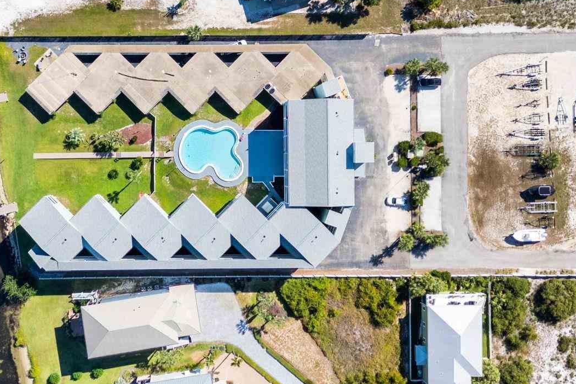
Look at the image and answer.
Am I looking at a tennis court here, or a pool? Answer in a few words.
pool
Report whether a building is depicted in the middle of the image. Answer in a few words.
Yes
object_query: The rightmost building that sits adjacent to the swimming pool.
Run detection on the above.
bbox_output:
[283,98,375,210]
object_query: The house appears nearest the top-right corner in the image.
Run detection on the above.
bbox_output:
[319,74,354,98]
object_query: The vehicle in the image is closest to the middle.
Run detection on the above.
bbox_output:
[387,196,411,208]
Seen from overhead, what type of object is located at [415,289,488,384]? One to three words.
house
